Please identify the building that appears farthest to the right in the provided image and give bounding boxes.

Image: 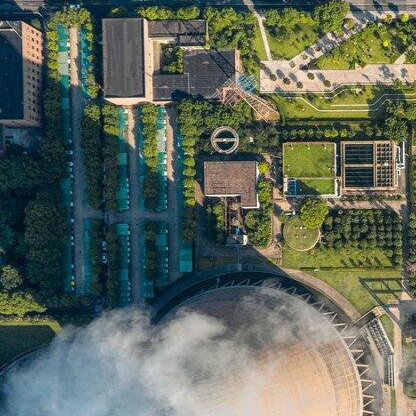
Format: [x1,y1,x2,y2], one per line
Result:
[282,143,338,195]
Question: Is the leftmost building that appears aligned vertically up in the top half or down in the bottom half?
top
